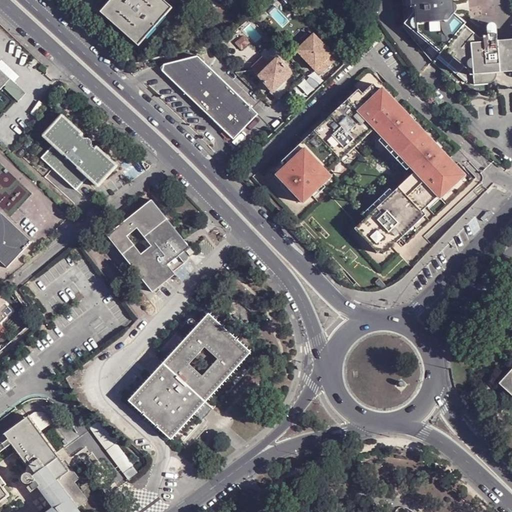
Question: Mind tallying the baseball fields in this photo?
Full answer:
There are no baseball fields in the image.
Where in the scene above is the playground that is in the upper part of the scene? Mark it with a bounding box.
[0,164,31,217]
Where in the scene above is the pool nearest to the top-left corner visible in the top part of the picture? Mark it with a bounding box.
[244,24,264,43]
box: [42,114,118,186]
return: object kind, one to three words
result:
building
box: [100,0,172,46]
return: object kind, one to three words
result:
building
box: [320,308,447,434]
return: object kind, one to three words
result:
roundabout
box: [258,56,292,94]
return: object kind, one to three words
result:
house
